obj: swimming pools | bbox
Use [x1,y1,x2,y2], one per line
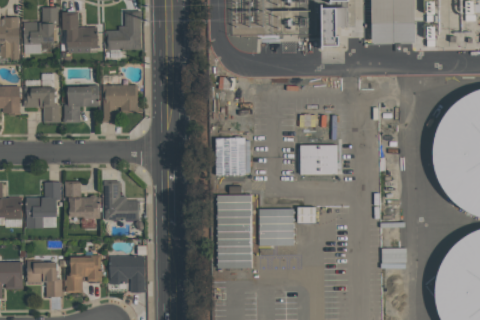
[48,240,63,249]
[0,67,20,84]
[112,224,131,236]
[122,66,143,84]
[68,68,92,80]
[112,242,134,254]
